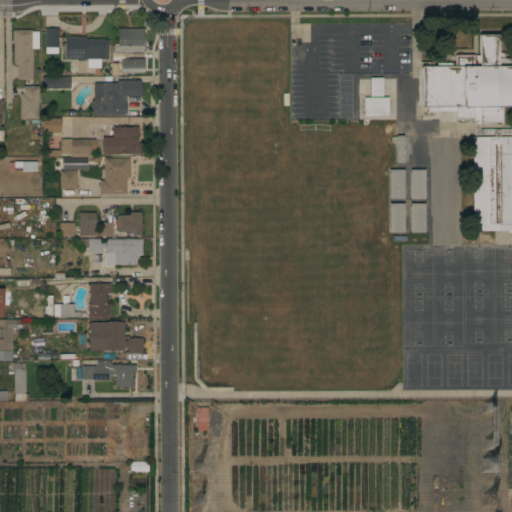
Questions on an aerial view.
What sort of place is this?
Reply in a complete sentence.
This looks like a sports ground.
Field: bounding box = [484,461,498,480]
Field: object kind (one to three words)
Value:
pylon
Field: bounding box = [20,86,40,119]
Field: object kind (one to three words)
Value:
house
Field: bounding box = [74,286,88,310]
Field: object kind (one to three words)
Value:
swimming pool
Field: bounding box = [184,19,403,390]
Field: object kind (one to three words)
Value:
sports field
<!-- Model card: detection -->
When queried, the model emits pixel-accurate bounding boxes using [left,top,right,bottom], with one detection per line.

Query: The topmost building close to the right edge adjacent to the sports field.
[424,63,512,124]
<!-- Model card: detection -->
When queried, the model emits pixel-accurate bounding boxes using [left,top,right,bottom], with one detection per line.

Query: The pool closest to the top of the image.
[76,86,92,106]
